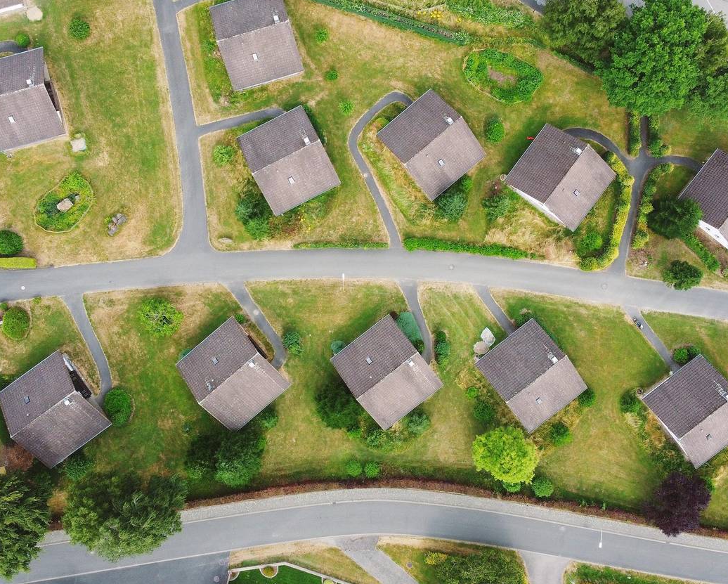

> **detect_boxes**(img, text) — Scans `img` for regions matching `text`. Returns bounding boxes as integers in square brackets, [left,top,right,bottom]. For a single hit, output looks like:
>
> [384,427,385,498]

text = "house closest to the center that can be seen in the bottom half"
[331,314,443,429]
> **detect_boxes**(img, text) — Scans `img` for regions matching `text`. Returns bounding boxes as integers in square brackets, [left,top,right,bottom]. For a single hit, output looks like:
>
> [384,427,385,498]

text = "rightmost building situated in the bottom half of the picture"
[640,353,728,468]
